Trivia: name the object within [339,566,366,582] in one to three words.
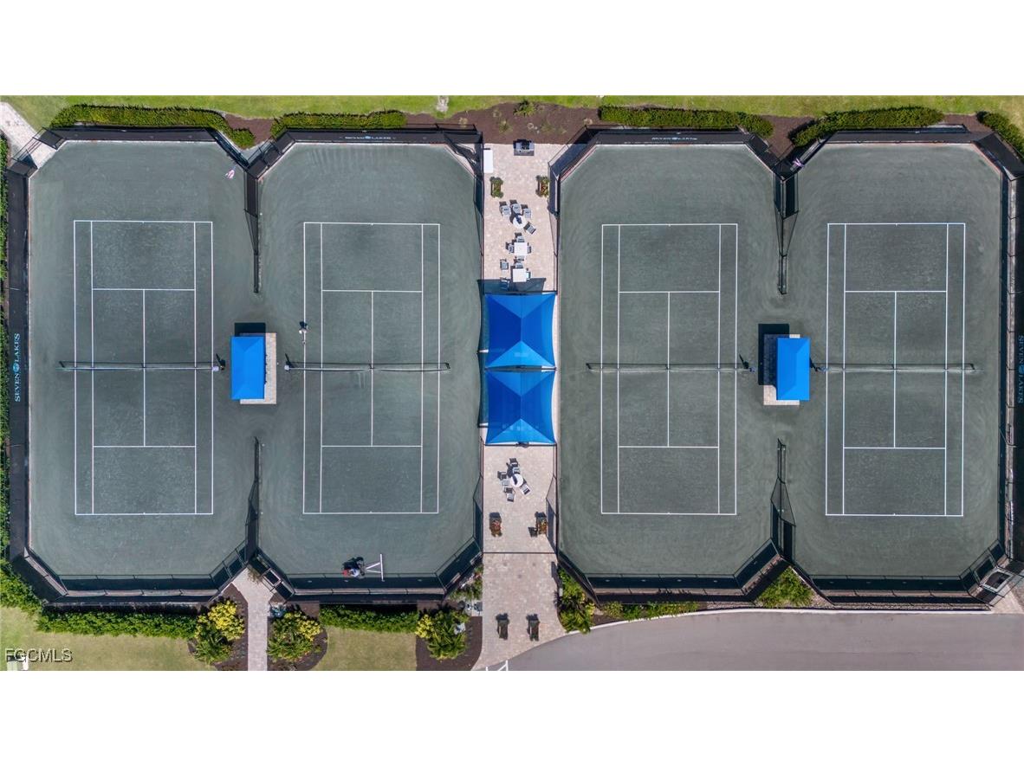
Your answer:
work vehicle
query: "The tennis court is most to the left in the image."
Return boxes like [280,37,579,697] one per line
[26,140,257,593]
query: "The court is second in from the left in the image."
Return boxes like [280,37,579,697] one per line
[257,142,483,592]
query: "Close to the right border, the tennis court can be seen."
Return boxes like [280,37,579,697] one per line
[783,141,1002,593]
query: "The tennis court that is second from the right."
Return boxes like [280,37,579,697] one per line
[560,142,784,593]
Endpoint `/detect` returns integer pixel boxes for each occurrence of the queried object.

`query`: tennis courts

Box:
[560,142,784,593]
[257,142,483,592]
[26,140,257,593]
[783,141,1002,593]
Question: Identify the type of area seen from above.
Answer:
sports ground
